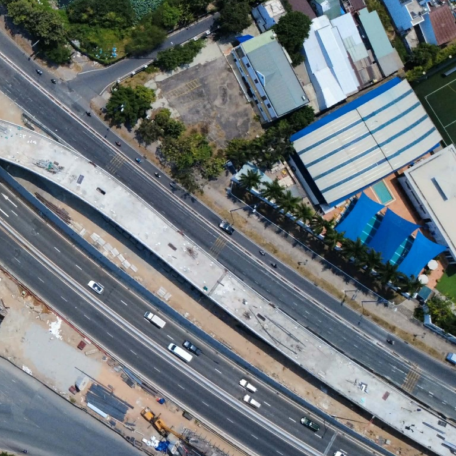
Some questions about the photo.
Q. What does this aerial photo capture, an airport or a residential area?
residential area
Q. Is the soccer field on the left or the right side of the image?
right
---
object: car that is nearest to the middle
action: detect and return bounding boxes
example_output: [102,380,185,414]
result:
[217,220,233,234]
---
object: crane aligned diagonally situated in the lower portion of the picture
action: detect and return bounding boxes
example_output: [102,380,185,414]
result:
[135,400,187,447]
